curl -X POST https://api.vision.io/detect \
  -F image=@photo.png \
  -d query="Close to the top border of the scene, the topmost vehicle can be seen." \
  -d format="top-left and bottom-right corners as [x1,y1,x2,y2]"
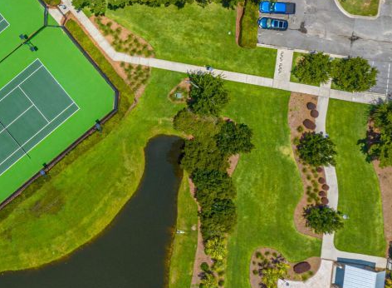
[260,0,296,14]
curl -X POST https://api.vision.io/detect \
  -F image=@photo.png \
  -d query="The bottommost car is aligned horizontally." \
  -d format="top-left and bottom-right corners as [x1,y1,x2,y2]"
[259,17,288,30]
